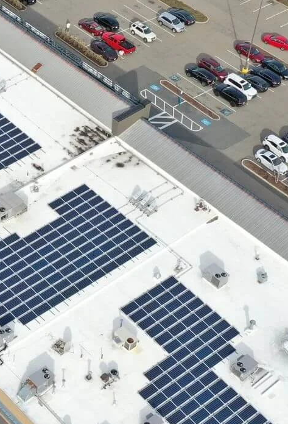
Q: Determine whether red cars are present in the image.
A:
Yes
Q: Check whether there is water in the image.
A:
No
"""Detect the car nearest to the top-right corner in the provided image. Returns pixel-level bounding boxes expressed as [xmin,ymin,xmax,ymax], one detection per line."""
[262,35,288,54]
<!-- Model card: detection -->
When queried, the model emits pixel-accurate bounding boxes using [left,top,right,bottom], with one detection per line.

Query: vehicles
[156,11,186,32]
[186,66,217,87]
[198,57,228,81]
[77,18,105,38]
[92,12,120,32]
[168,8,195,27]
[88,40,118,62]
[127,20,157,43]
[253,149,288,175]
[262,135,288,162]
[262,35,288,54]
[212,80,248,107]
[262,58,288,81]
[101,32,137,57]
[233,42,264,63]
[225,73,258,100]
[240,71,273,94]
[249,64,281,88]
